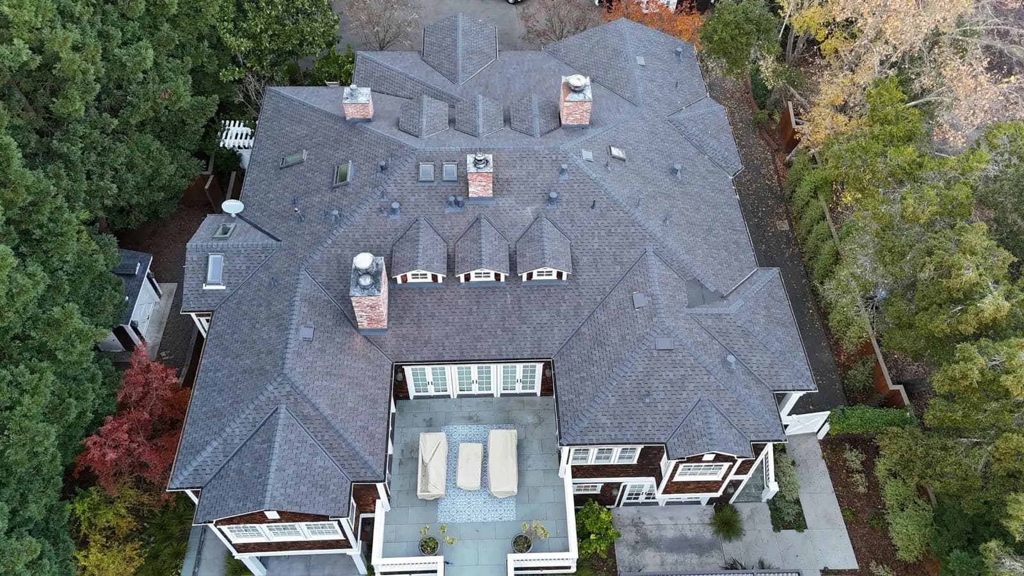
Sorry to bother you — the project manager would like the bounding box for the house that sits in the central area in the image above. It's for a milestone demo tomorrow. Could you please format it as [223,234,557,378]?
[163,14,821,576]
